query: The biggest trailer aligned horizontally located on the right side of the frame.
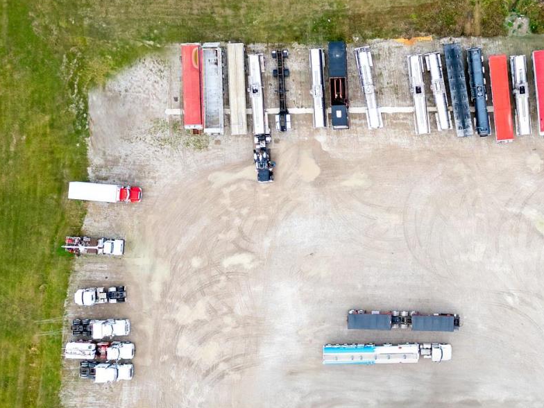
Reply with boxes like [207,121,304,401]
[323,340,418,362]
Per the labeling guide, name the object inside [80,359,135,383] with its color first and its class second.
white truck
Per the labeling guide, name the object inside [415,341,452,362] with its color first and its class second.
white truck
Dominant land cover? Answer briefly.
paved ground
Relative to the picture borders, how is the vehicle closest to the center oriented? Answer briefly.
from top to bottom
